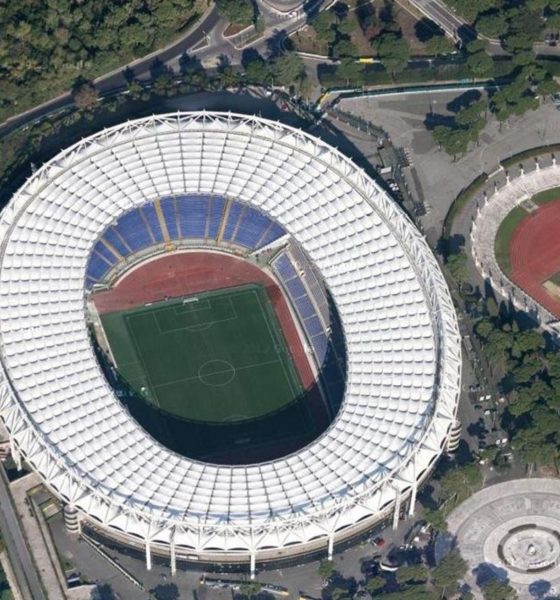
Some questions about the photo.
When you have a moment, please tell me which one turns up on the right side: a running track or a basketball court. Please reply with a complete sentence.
What appears on the right side is a running track.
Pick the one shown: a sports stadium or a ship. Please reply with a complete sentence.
This aerial view contains a sports stadium.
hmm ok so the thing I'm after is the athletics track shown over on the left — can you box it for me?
[73,250,332,492]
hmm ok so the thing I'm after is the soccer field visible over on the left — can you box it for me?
[102,282,324,474]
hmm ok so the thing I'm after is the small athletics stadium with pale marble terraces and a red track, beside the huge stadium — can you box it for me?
[470,162,560,342]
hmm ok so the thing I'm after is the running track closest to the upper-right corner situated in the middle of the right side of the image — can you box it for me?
[508,200,560,317]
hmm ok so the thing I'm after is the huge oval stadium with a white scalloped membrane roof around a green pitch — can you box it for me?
[0,106,465,580]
